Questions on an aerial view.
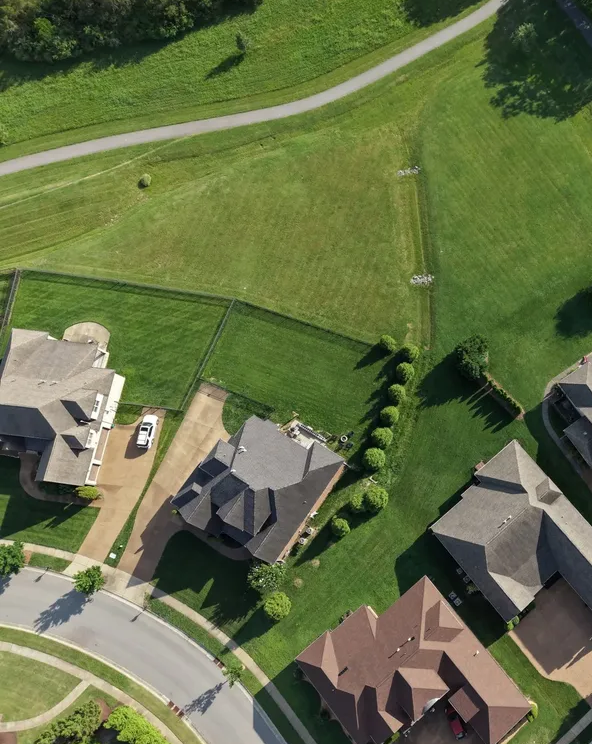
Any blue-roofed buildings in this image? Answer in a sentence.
No, there appears to be no blue-roofed building in this shot.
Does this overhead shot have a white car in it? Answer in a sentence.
Yes, I can see a white car in this picture.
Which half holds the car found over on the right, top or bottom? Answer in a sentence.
The car found over on the right is in the bottom half of the image.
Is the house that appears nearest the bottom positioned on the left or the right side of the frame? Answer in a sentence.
It is on the right.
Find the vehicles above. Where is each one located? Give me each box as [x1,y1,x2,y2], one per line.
[442,703,468,742]
[136,415,159,451]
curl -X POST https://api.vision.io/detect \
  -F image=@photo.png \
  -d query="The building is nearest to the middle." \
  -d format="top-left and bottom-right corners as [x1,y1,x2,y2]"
[170,415,346,563]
